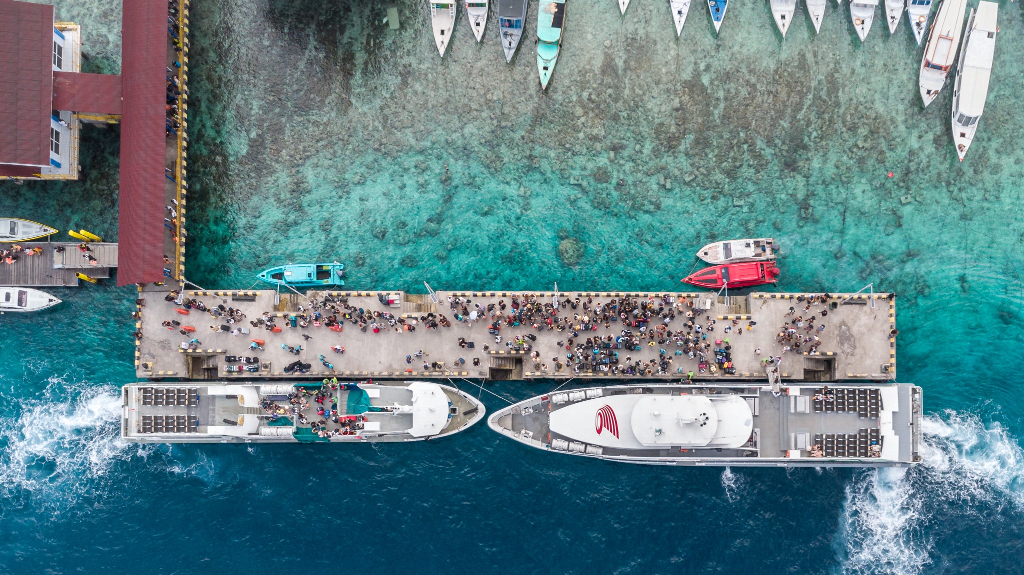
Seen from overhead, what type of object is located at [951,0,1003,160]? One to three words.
boat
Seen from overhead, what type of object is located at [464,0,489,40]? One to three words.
boat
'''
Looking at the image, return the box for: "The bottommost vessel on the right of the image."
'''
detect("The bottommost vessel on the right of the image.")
[487,383,924,467]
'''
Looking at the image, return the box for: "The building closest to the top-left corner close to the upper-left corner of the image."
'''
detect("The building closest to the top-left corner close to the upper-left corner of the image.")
[0,0,110,189]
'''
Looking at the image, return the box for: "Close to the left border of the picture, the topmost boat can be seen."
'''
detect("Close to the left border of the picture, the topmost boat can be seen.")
[0,216,58,243]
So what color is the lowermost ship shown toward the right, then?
white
